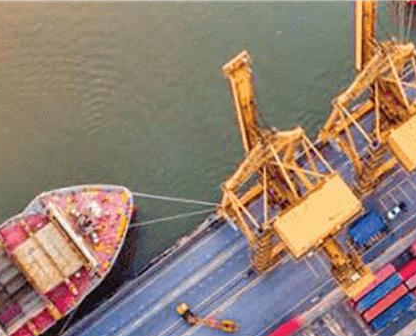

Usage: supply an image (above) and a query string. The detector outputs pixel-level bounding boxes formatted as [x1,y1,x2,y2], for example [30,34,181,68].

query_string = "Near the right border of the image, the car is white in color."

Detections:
[385,205,401,220]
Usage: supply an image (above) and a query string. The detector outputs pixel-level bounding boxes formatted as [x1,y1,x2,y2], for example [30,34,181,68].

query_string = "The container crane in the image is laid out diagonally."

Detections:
[211,37,381,299]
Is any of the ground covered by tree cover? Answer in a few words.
No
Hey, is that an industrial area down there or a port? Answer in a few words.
port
